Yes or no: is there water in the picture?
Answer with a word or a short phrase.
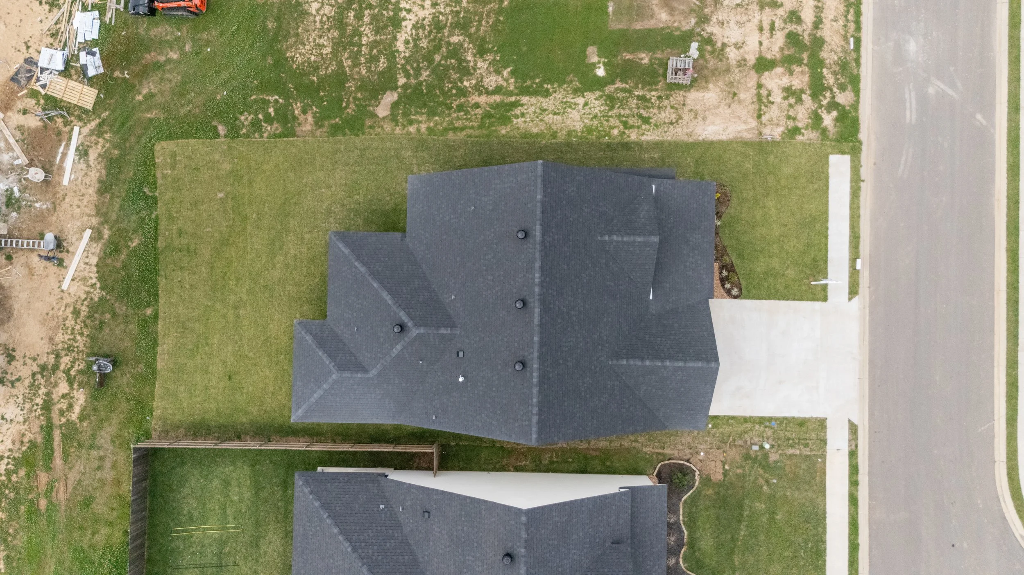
No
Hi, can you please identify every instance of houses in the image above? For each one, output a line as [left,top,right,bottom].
[292,464,667,575]
[292,161,720,447]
